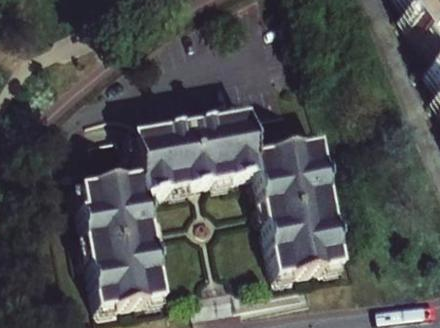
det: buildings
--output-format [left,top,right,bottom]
[394,0,440,122]
[74,108,350,326]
